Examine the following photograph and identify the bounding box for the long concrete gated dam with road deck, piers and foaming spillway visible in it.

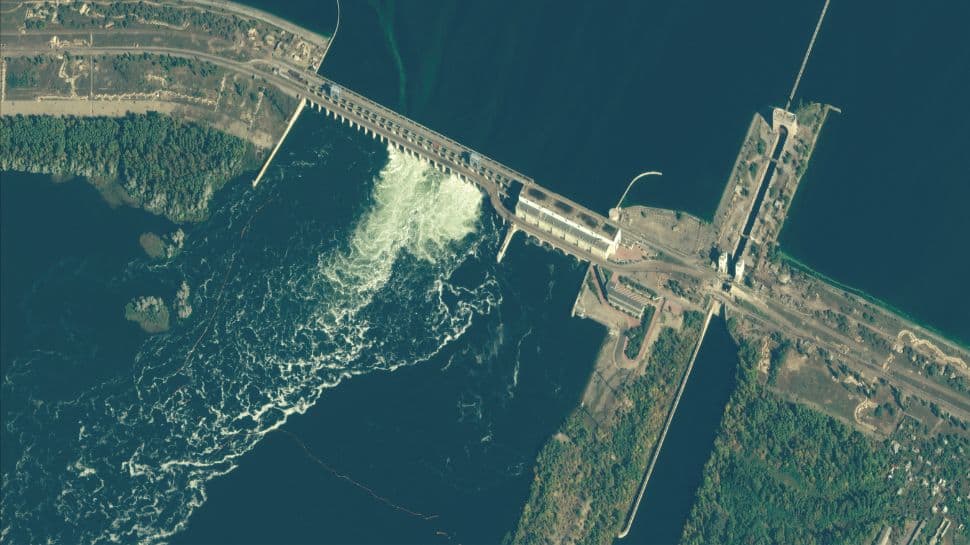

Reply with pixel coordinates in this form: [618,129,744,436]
[296,72,531,193]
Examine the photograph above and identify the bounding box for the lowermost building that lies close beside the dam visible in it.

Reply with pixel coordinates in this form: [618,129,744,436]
[512,181,633,260]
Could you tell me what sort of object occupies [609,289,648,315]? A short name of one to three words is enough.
building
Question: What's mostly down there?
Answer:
water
